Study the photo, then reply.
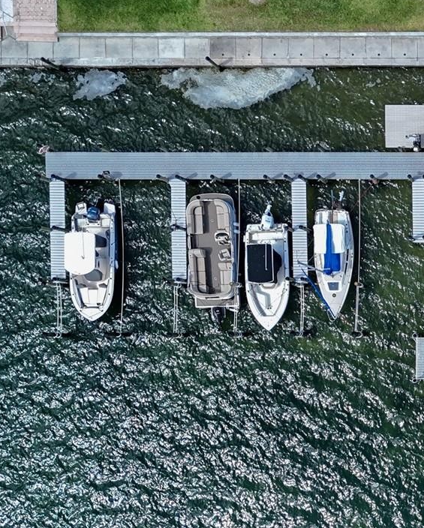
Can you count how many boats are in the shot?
four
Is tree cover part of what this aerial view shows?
No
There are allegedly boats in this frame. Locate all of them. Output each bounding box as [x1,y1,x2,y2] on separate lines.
[242,206,290,331]
[64,201,121,322]
[186,193,240,324]
[292,190,354,321]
